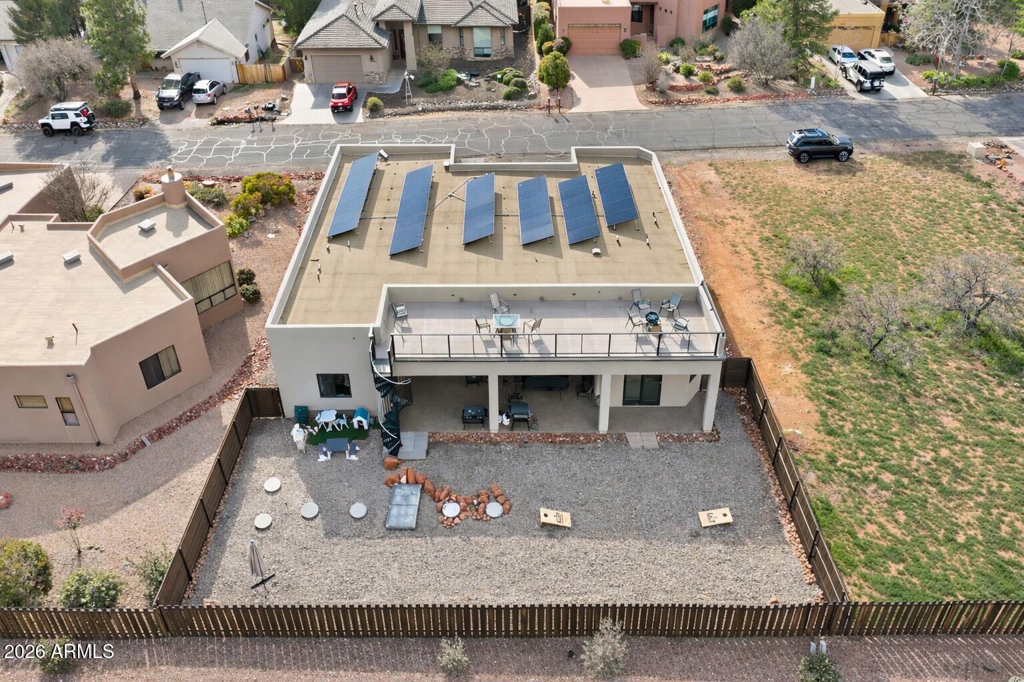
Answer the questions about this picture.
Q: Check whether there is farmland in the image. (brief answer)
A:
No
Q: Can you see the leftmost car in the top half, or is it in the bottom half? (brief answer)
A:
top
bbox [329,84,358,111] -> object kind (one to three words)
car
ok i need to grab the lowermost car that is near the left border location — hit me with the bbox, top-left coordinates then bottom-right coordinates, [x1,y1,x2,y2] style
[34,106,95,136]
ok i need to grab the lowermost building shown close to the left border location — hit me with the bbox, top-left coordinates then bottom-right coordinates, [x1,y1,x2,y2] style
[0,162,243,449]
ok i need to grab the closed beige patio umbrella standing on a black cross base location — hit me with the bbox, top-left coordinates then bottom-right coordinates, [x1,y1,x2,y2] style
[247,538,278,588]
